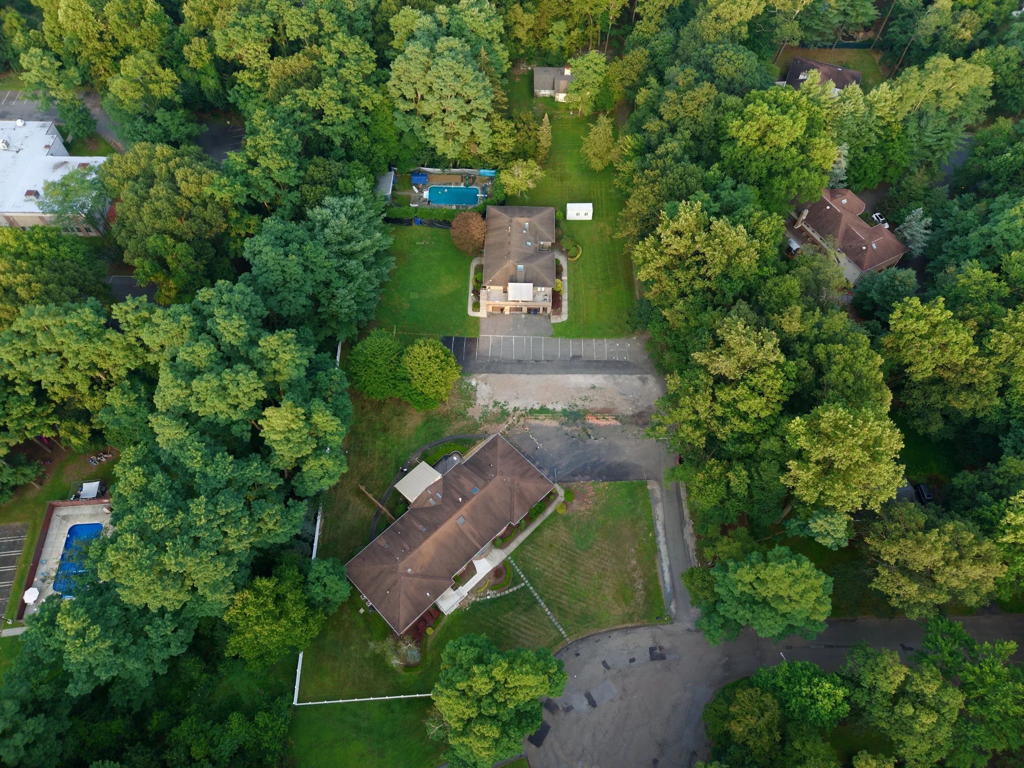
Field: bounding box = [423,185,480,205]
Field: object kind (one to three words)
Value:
swimming pool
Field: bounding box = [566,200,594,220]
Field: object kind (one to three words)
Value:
shed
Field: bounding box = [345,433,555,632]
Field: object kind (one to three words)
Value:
building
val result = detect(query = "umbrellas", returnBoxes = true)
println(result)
[789,238,800,250]
[20,590,40,608]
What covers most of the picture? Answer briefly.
trees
